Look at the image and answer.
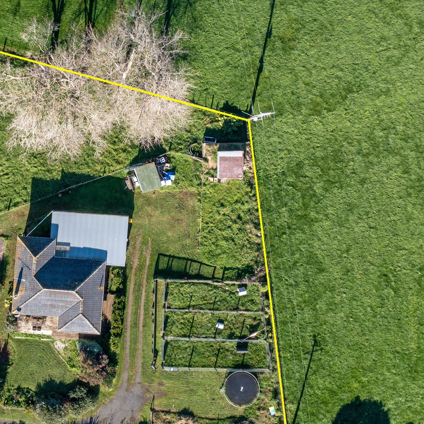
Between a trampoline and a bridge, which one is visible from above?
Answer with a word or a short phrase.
trampoline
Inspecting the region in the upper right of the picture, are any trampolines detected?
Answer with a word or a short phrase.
No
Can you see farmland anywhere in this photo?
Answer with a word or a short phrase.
Yes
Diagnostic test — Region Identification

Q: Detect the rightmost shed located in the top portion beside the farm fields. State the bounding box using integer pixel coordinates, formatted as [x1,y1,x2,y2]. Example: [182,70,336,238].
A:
[215,151,244,179]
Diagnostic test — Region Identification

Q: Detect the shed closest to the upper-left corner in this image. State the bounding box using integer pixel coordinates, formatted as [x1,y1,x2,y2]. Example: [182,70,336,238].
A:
[133,162,162,193]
